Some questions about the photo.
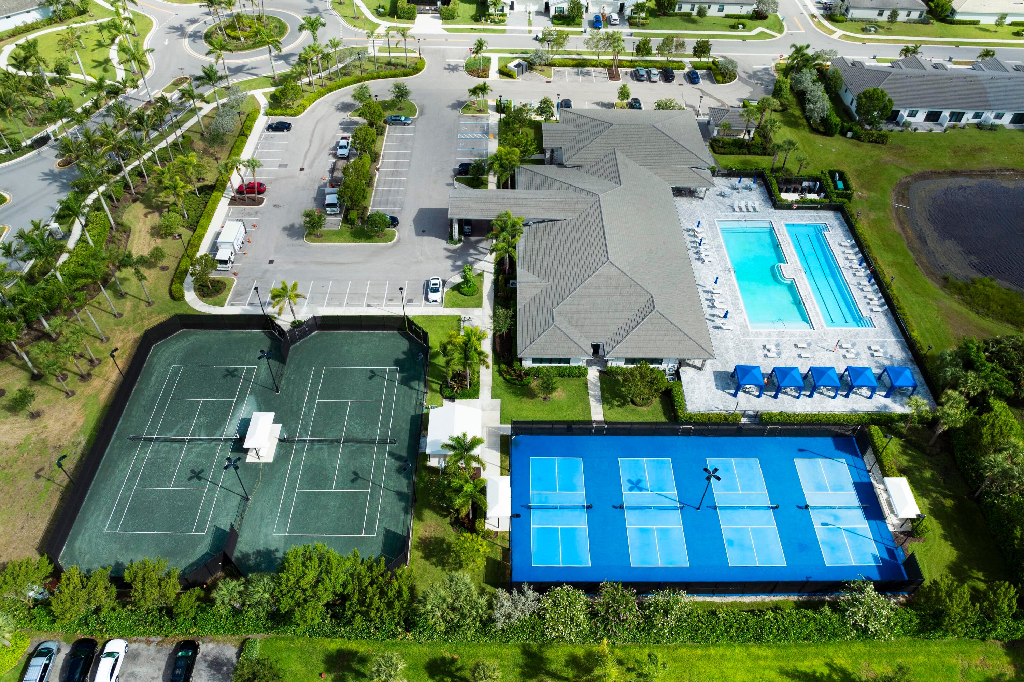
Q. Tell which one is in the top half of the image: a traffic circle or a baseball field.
traffic circle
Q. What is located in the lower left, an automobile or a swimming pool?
automobile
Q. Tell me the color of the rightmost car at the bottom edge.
black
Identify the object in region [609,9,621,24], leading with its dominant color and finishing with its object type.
white vehicle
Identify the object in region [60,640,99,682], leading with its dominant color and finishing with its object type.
black car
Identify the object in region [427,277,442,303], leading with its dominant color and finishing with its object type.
white car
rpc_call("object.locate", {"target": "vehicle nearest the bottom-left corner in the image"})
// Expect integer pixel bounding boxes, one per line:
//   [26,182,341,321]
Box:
[17,638,60,682]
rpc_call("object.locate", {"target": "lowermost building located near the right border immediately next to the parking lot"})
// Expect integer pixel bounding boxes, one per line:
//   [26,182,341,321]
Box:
[824,48,1024,129]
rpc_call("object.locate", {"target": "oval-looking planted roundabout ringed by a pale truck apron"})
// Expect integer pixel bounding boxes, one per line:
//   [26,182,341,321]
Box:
[183,8,308,64]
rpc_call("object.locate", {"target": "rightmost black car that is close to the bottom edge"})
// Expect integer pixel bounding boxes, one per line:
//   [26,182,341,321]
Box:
[168,641,200,682]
